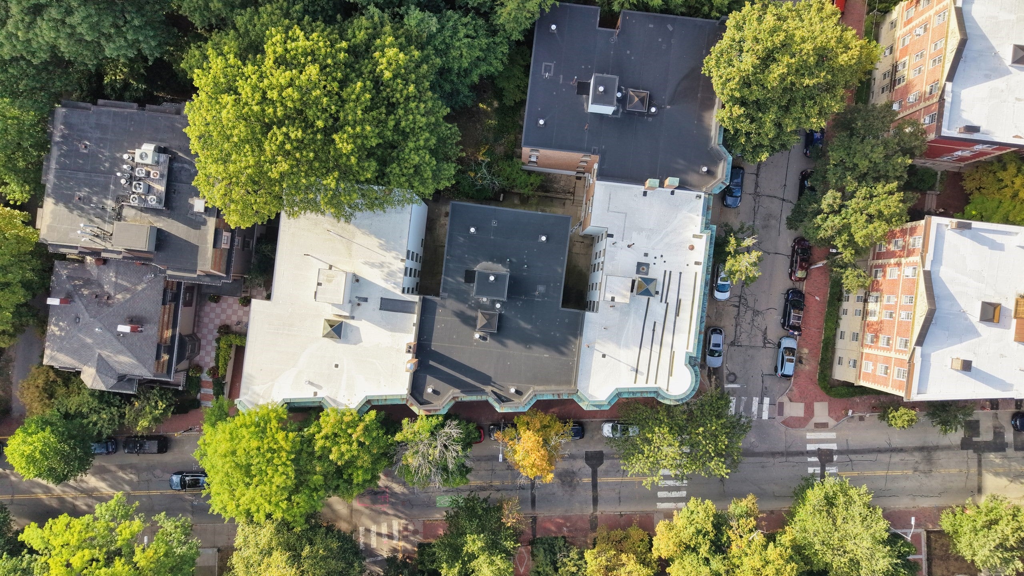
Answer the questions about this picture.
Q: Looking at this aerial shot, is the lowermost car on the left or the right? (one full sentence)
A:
It is on the left.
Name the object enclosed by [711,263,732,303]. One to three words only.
car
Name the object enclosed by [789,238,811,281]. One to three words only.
car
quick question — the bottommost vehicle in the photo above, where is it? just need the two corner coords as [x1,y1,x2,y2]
[169,471,212,493]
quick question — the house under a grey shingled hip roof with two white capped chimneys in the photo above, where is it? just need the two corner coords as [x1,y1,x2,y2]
[43,256,213,394]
